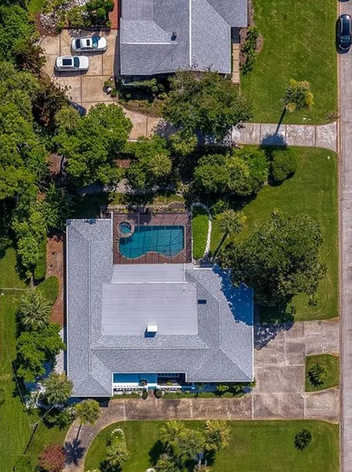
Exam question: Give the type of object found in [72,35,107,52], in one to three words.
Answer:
car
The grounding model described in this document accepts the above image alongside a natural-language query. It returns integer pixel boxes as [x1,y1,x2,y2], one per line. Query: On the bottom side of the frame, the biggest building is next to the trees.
[67,219,254,397]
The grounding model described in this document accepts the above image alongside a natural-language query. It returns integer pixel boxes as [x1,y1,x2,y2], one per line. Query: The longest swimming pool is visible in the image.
[118,224,187,260]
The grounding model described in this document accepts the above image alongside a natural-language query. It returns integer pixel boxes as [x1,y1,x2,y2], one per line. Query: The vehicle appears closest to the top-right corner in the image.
[336,14,352,51]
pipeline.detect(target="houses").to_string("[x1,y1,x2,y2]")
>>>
[67,219,254,397]
[119,0,248,78]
